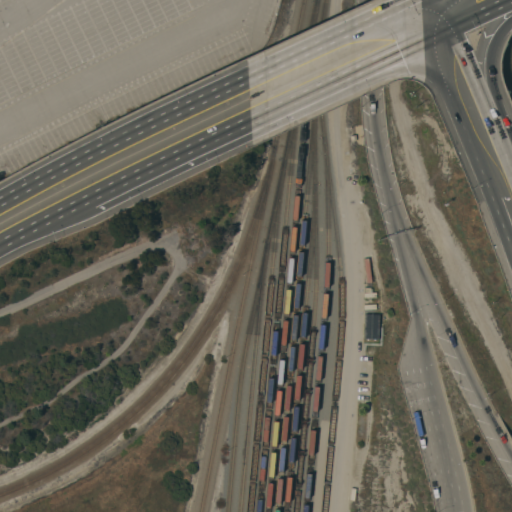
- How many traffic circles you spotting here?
0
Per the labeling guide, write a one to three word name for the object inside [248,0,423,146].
overpass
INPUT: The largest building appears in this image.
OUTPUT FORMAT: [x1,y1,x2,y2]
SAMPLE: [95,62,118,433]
[366,312,381,340]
